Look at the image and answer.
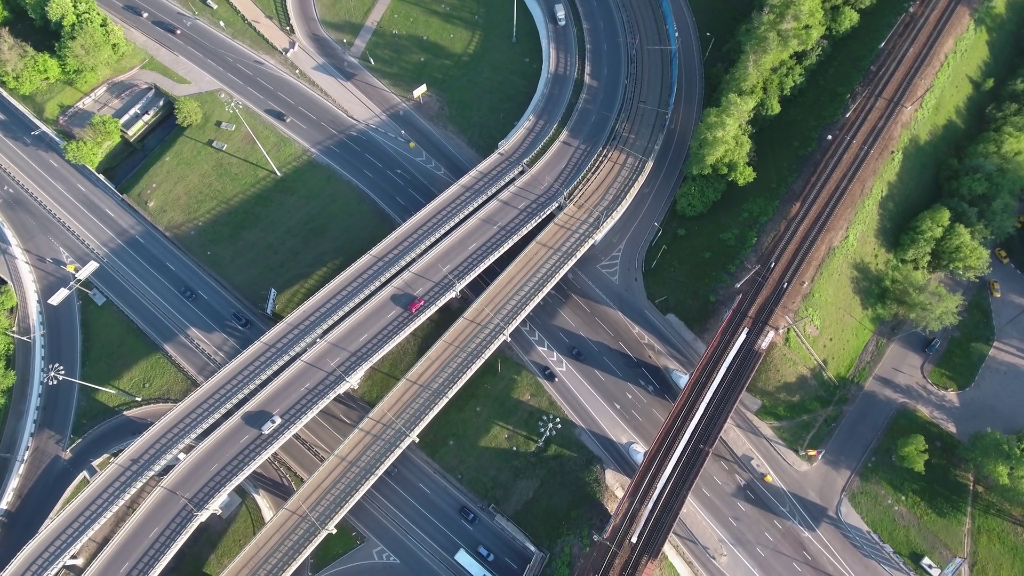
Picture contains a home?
No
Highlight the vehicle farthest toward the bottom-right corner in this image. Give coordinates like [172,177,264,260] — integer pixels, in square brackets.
[923,336,941,356]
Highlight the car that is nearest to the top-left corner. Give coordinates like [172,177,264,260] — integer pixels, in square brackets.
[129,5,147,18]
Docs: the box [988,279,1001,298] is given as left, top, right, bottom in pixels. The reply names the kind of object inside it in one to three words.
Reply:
vehicle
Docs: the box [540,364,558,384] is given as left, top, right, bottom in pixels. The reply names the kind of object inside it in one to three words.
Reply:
car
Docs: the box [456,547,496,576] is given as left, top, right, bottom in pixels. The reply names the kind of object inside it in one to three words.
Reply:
bus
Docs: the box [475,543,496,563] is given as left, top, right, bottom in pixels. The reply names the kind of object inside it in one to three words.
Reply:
car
